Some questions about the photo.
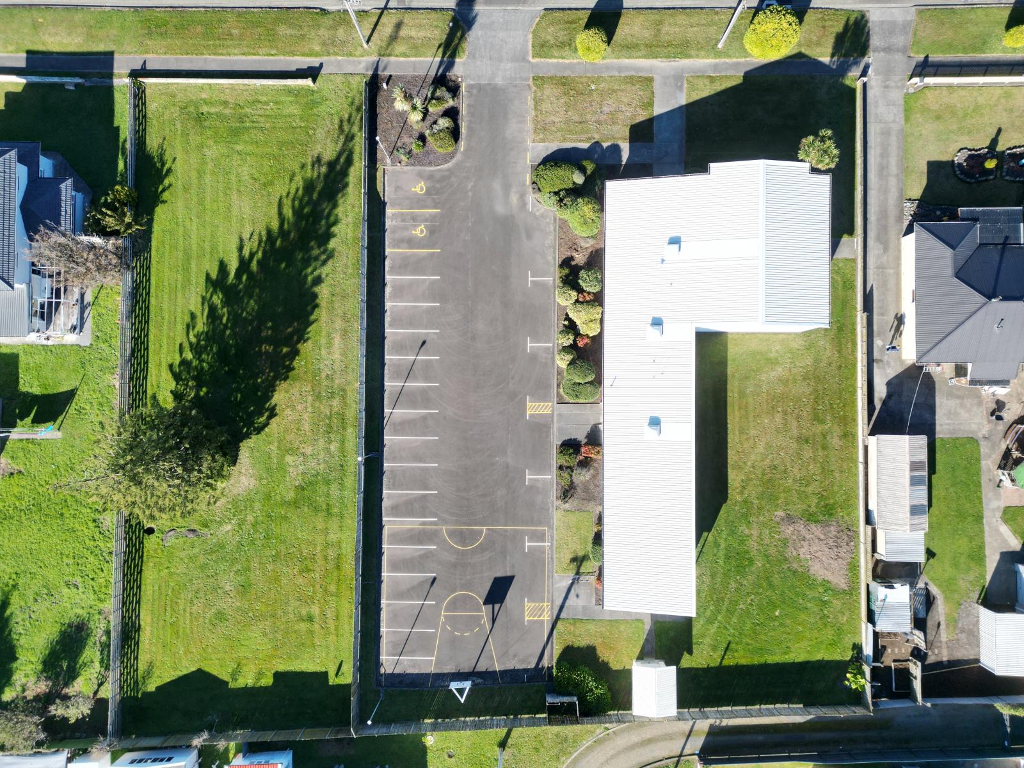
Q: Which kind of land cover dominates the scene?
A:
grass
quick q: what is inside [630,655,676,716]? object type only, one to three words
shed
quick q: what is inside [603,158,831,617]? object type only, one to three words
building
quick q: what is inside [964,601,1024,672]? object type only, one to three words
shed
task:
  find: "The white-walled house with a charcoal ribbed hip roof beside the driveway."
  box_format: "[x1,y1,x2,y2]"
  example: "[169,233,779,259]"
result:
[902,209,1024,387]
